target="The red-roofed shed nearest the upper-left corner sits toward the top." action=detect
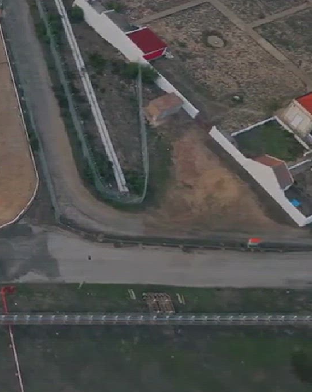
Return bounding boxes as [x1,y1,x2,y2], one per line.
[127,26,168,59]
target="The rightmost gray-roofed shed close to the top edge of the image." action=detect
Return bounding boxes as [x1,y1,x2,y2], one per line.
[106,11,141,33]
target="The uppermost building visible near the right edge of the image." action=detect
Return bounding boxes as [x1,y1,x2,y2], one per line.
[282,92,312,139]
